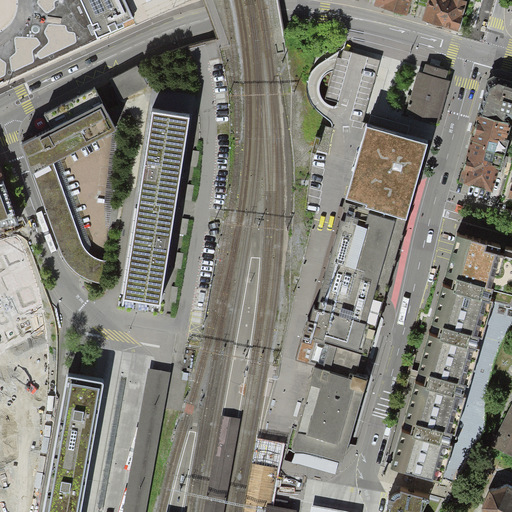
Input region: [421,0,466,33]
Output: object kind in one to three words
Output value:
house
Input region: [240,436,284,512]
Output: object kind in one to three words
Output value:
building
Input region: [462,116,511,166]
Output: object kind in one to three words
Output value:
house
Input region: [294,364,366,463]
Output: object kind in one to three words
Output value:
building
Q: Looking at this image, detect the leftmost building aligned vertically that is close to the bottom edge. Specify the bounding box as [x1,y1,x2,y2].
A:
[43,376,106,512]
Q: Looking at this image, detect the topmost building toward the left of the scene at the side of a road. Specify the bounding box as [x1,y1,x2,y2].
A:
[78,0,134,40]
